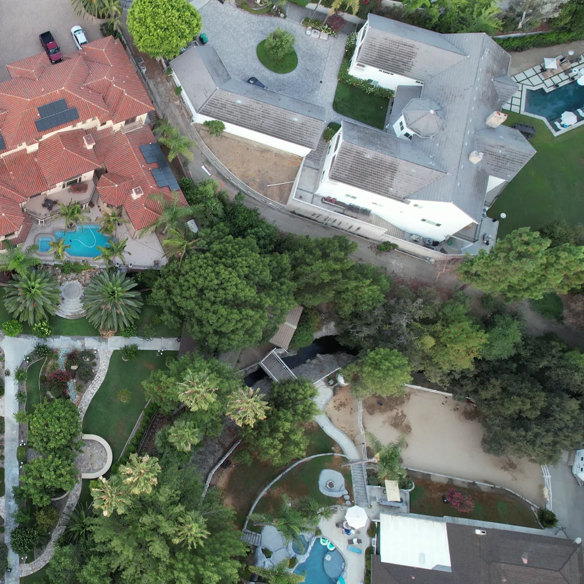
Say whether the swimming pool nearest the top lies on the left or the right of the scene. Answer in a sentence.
It is on the right.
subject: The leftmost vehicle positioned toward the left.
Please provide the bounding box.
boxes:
[38,25,62,63]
